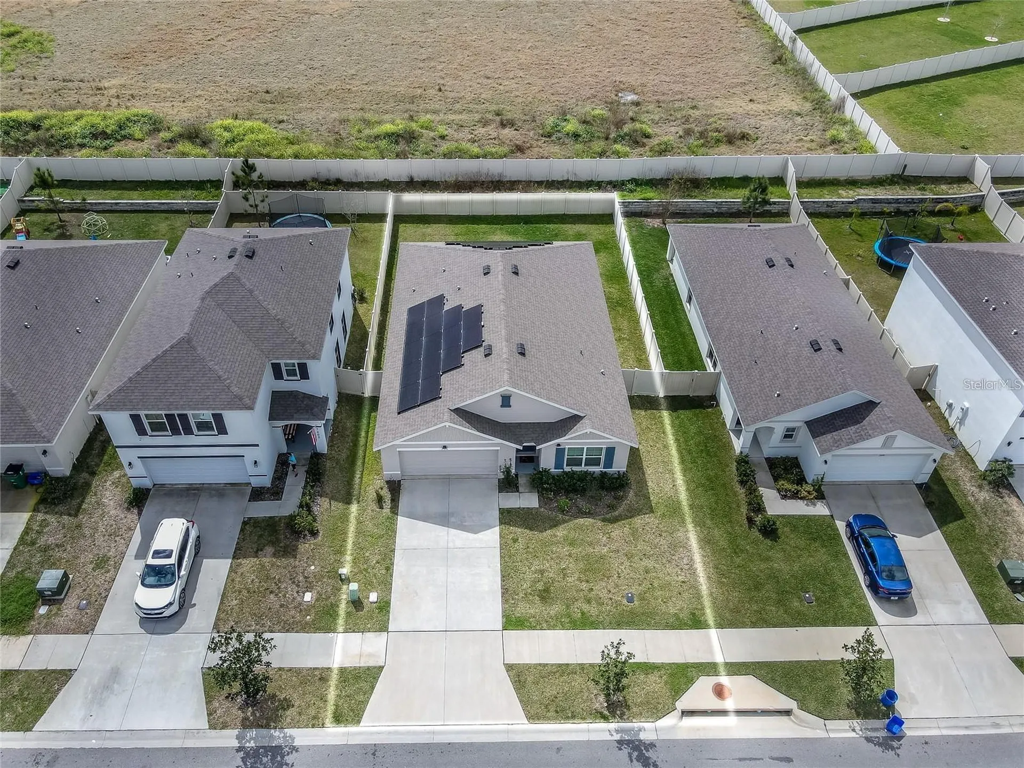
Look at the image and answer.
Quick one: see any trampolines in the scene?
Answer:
Yes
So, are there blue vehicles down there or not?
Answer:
Yes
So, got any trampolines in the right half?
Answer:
Yes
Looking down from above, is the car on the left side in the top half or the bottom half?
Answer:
bottom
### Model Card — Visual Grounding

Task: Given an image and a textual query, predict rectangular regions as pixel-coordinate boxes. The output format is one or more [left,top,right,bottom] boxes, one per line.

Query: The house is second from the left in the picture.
[89,229,354,487]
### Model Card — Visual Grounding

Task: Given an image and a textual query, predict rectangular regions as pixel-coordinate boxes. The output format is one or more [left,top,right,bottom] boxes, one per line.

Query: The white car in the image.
[129,521,199,619]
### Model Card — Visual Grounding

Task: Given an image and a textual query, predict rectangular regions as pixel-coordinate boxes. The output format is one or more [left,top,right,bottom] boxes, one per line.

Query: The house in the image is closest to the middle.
[374,243,638,477]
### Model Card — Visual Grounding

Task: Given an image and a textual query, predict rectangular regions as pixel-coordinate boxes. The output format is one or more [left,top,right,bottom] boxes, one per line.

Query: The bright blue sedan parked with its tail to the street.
[846,509,921,597]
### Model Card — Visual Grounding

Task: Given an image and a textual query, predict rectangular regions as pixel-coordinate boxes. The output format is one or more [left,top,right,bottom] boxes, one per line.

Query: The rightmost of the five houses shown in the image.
[884,244,1024,469]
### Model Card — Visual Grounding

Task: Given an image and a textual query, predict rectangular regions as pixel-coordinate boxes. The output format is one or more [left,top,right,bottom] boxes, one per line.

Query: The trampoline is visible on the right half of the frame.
[872,214,949,277]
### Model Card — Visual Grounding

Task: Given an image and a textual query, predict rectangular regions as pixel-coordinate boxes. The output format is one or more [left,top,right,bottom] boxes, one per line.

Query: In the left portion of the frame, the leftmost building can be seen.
[0,242,167,476]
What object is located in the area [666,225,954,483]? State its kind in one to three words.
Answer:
house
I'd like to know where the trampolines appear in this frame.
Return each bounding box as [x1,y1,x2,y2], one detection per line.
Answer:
[872,214,949,277]
[265,194,331,230]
